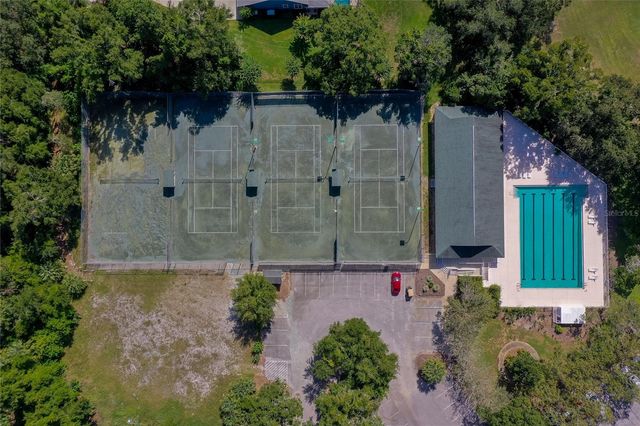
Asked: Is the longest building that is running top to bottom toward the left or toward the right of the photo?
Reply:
right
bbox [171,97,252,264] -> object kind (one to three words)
tennis court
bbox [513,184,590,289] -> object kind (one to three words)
swimming pool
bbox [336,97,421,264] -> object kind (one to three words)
tennis court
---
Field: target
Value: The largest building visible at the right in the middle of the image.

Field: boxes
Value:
[436,106,504,257]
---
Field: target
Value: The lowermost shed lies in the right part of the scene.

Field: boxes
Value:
[556,305,585,324]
